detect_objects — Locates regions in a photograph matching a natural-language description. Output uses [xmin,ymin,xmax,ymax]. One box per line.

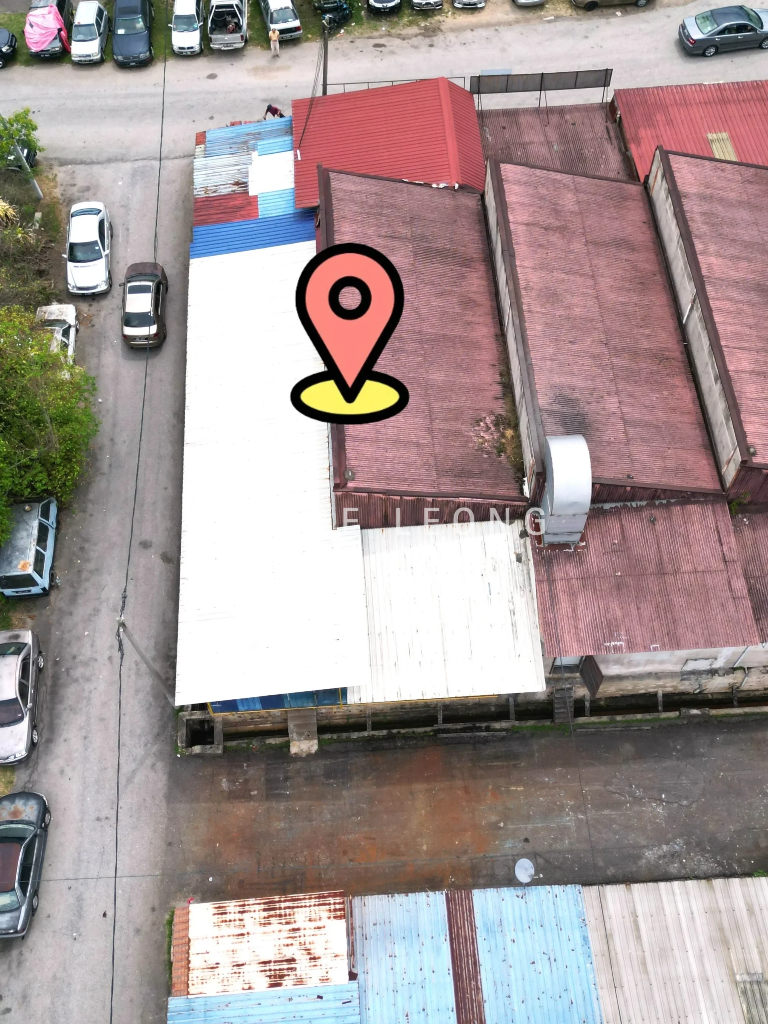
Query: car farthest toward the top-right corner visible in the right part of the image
[678,5,768,58]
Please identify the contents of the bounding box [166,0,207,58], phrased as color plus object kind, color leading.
white car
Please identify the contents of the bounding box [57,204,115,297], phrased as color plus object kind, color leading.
white car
